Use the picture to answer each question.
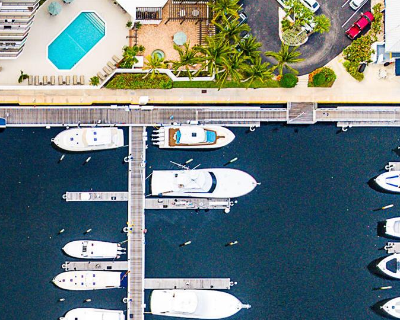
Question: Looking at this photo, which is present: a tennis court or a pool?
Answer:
pool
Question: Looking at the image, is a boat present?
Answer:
Yes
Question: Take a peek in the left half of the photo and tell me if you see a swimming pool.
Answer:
Yes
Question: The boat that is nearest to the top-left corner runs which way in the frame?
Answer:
horizontally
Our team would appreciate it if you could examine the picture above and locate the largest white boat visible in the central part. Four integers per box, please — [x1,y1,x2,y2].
[145,154,262,206]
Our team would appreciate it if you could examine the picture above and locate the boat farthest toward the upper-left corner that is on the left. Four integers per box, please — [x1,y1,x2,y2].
[50,127,129,149]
